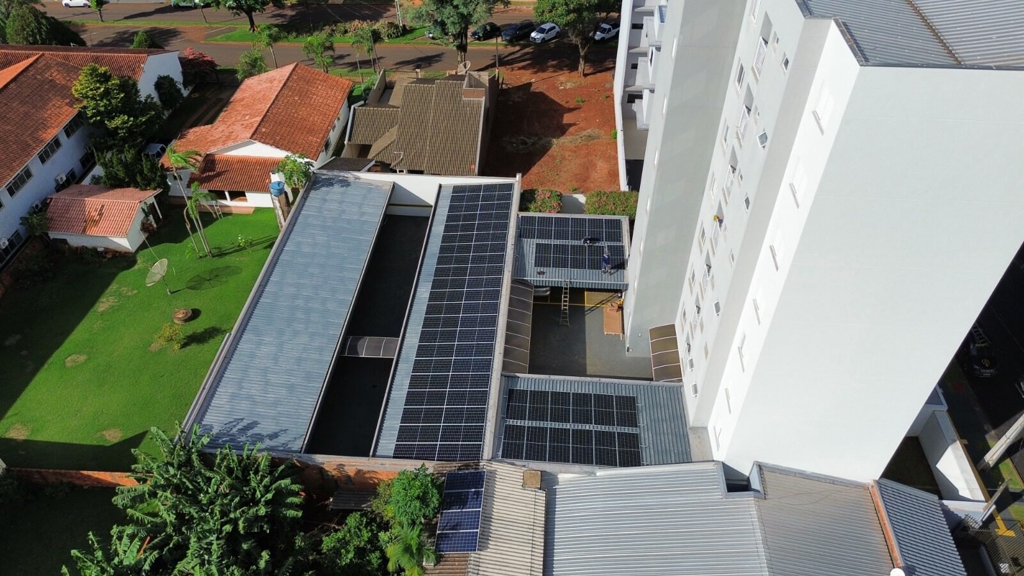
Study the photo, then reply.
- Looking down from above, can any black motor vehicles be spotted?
Yes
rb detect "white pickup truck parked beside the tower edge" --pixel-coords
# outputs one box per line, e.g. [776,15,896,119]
[591,22,622,44]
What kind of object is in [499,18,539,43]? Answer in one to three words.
car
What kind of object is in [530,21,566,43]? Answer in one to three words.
car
